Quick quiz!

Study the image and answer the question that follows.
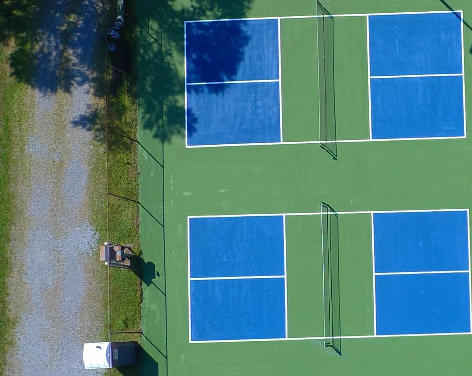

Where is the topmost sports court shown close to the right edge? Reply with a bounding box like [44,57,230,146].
[369,12,462,76]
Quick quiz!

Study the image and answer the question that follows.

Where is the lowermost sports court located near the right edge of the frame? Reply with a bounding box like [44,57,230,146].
[375,271,472,335]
